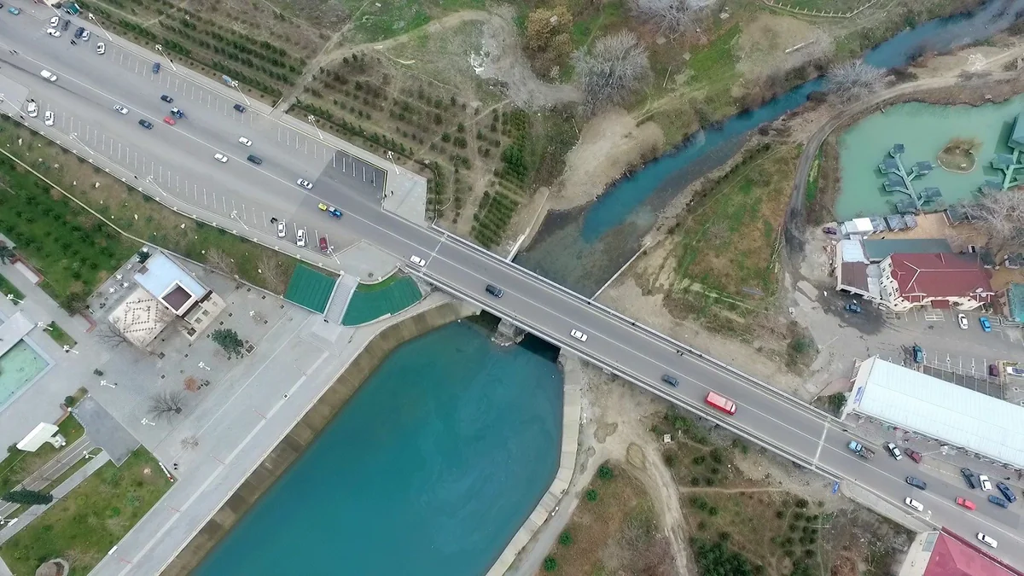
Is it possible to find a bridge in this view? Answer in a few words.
Yes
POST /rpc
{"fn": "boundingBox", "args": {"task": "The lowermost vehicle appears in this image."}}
[975,531,999,550]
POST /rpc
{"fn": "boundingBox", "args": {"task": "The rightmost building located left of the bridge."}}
[132,249,231,344]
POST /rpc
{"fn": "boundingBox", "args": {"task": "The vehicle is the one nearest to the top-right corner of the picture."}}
[821,225,839,237]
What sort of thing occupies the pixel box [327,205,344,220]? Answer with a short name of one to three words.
work vehicle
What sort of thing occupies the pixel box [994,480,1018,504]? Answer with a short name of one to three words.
car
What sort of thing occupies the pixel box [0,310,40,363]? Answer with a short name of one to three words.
building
